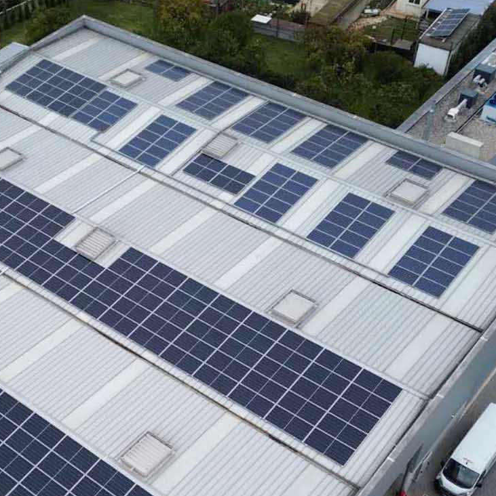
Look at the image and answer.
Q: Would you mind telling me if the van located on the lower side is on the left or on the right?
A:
right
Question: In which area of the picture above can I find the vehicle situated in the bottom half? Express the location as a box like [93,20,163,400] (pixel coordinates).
[435,403,496,496]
